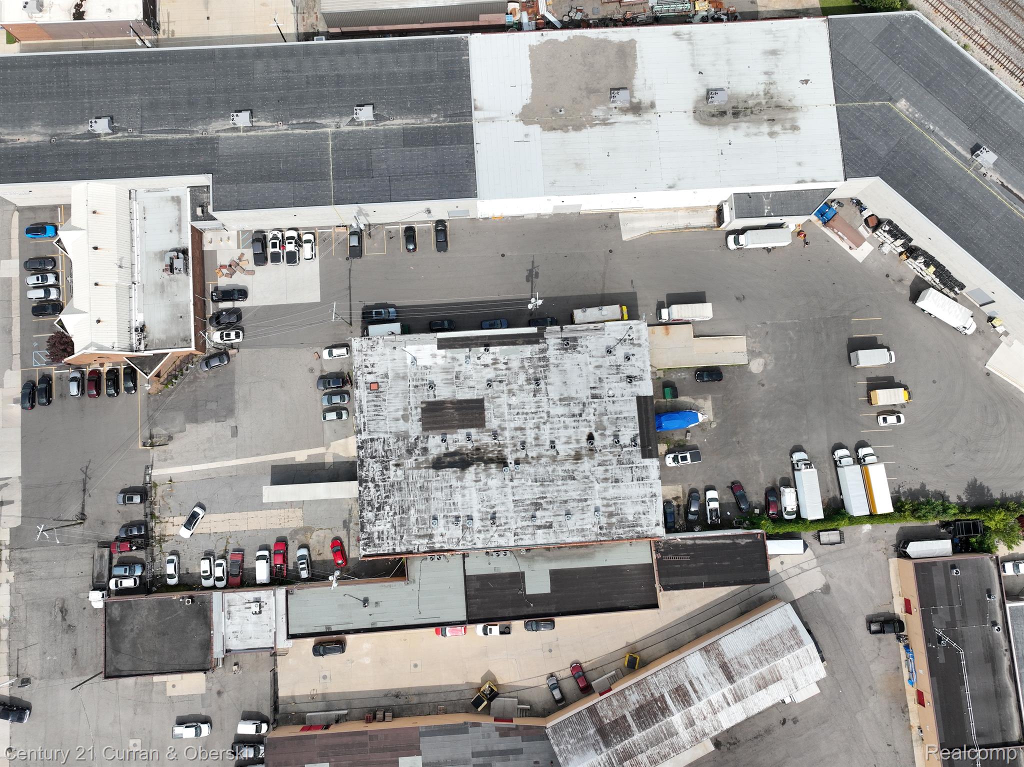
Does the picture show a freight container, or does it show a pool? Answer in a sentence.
It is a freight container that can be seen here.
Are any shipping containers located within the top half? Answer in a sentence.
Yes, looking within the top half, one can make out a shipping container.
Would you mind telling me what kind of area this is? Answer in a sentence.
The area seen from above is an industrial area.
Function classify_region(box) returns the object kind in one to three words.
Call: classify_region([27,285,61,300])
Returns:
car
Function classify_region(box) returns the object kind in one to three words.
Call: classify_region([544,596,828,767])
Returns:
shed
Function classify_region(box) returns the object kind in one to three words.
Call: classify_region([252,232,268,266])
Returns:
vehicle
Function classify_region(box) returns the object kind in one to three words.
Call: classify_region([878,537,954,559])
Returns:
trailer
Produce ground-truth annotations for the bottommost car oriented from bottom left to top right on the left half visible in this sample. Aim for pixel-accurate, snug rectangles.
[181,507,205,536]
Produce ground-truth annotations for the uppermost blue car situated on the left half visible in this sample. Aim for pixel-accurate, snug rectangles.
[28,225,56,238]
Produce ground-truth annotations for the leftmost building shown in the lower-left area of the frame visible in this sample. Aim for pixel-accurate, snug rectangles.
[102,586,226,680]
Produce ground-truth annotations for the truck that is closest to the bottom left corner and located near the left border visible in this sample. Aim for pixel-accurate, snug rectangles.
[0,704,35,725]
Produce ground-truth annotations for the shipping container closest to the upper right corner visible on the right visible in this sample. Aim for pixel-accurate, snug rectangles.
[821,216,863,252]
